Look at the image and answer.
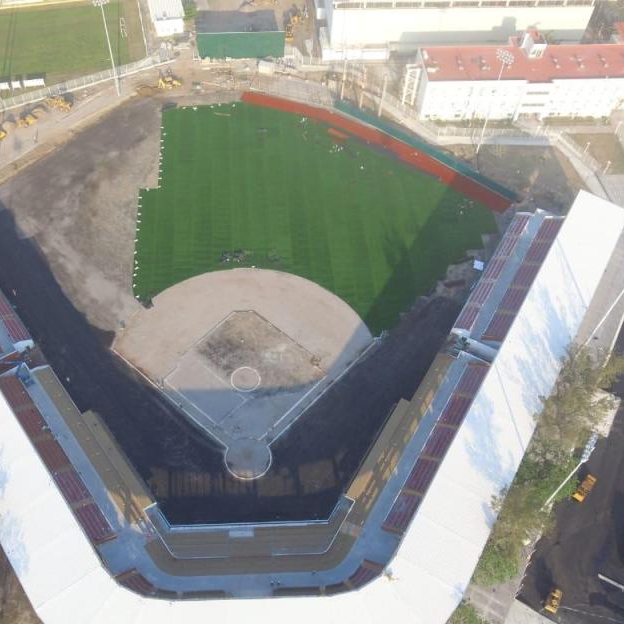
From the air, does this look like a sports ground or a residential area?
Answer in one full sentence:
What you see here is a sports ground.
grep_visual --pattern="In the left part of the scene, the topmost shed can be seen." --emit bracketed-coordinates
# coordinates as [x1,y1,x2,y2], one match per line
[150,0,186,38]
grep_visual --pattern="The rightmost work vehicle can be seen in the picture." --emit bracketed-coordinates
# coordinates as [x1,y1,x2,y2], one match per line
[576,473,596,500]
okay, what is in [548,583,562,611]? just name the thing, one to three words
work vehicle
